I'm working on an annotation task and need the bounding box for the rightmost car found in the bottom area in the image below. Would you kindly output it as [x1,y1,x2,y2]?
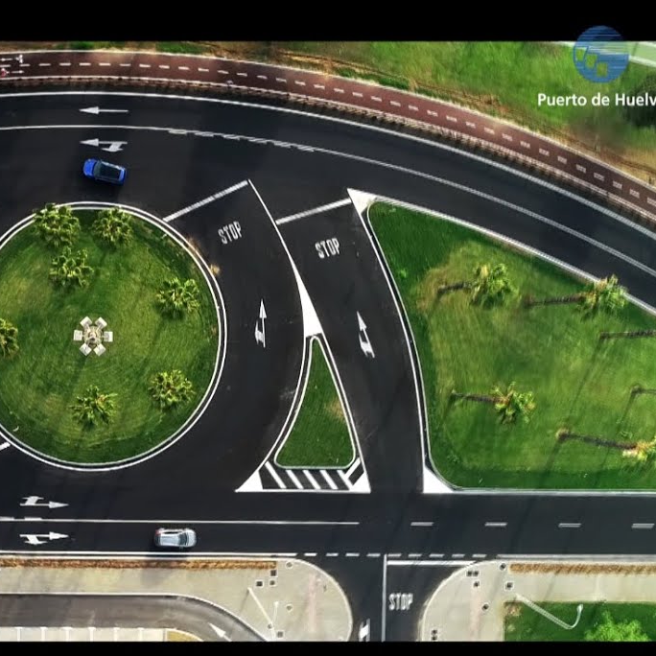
[154,526,194,549]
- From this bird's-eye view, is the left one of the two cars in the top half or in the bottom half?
top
